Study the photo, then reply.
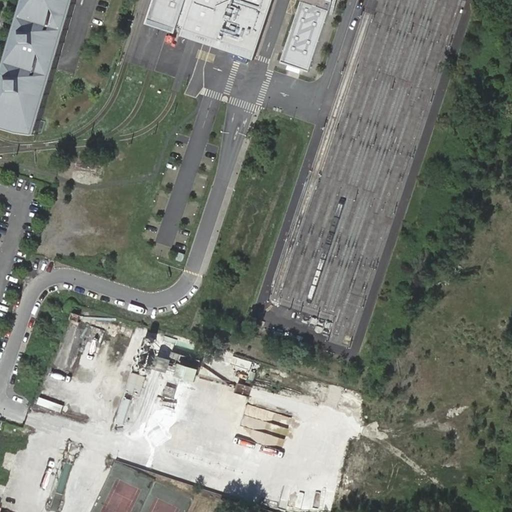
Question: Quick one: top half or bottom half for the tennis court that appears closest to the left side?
bottom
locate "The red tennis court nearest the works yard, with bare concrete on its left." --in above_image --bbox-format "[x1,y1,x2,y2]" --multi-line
[90,461,156,512]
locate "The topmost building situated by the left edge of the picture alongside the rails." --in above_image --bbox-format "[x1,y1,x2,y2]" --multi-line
[0,0,70,135]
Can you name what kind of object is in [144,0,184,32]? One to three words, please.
shed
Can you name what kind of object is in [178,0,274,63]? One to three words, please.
building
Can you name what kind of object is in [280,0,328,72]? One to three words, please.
building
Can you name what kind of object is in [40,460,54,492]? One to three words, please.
vehicle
